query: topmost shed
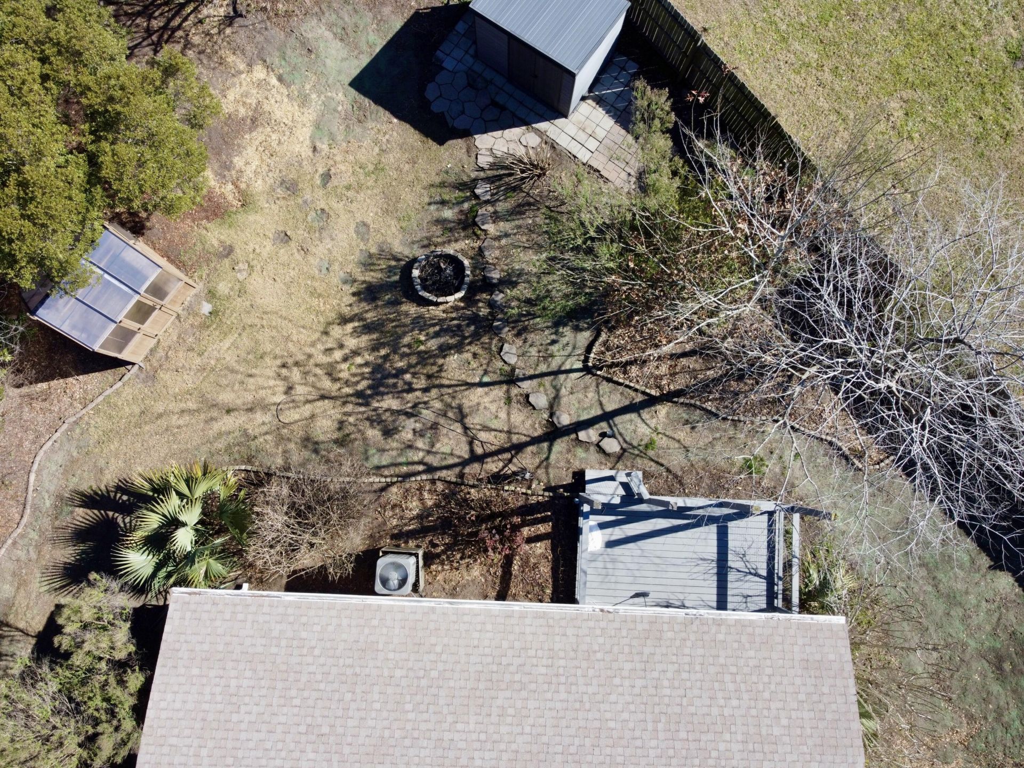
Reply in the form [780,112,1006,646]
[469,0,629,112]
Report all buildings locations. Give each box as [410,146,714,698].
[135,583,865,768]
[469,0,629,112]
[3,212,196,363]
